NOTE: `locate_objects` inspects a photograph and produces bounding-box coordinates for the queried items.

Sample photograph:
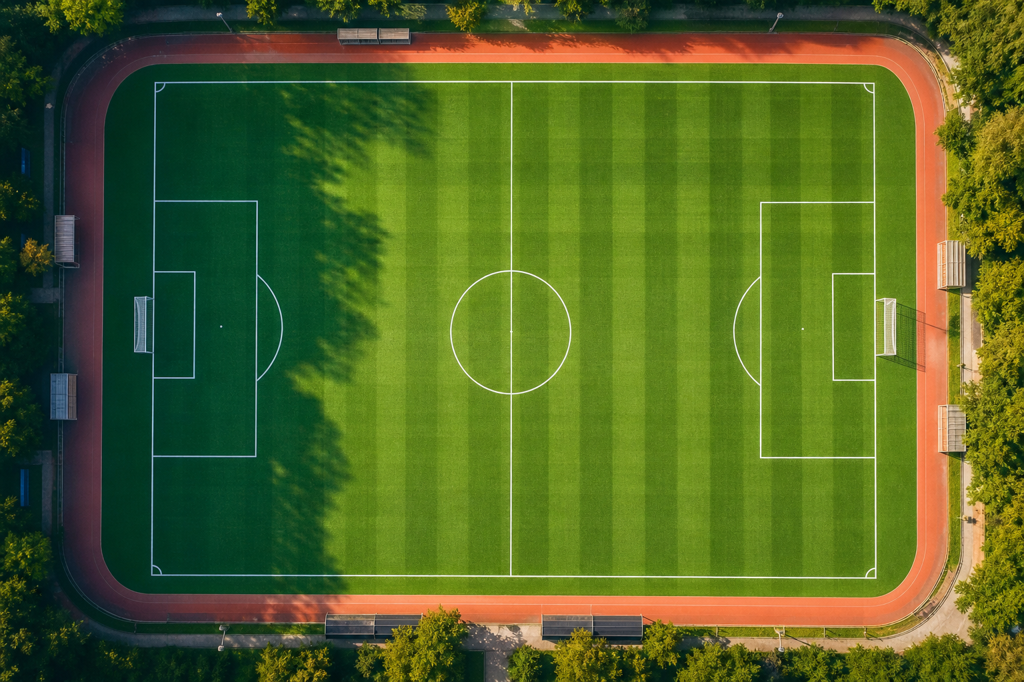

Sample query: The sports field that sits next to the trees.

[101,63,917,598]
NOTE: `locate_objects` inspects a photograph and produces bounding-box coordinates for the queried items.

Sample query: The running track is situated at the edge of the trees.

[63,34,946,626]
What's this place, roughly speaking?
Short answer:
sports ground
